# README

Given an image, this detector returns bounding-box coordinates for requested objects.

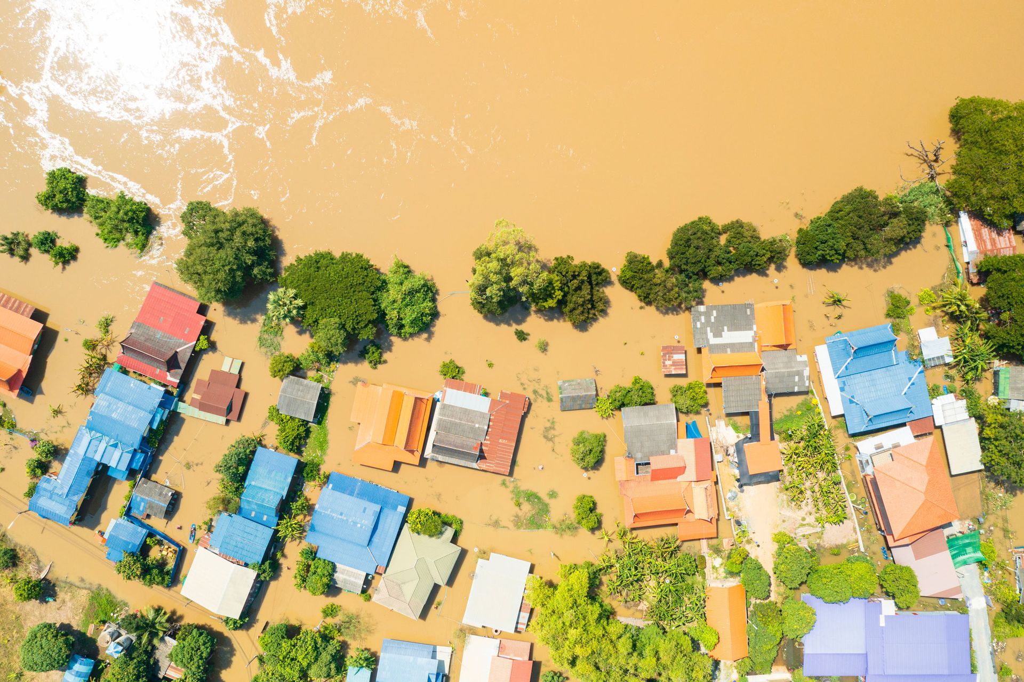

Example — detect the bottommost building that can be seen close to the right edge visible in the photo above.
[798,592,977,682]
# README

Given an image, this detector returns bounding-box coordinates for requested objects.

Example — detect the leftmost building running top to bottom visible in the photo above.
[0,294,46,398]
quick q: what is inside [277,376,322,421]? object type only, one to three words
shed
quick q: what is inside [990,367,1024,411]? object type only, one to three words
shed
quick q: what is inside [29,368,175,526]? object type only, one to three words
house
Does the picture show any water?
Yes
